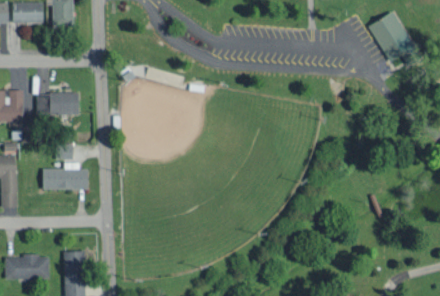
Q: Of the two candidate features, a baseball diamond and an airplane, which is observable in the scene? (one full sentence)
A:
Looking from above, you can make out a baseball diamond.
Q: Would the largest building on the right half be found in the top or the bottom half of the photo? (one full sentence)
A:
You can find the largest building on the right half in the top half.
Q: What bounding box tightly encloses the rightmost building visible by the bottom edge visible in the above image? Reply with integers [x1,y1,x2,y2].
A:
[64,251,86,296]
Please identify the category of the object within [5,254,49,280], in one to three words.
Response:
house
